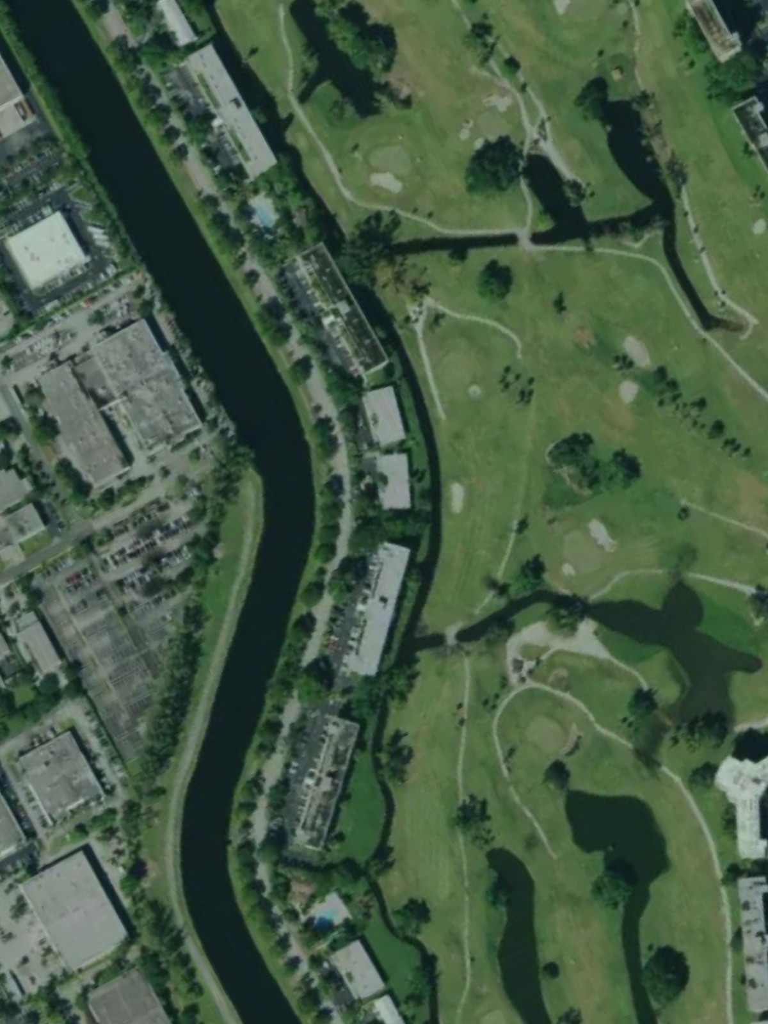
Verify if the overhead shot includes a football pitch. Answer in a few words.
No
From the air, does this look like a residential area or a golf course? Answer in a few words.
golf course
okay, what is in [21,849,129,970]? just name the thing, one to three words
building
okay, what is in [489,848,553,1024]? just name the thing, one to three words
pond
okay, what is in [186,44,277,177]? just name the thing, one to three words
building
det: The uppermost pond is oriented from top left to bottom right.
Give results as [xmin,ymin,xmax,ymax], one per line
[293,0,380,117]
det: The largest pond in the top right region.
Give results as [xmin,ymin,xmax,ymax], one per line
[525,98,743,332]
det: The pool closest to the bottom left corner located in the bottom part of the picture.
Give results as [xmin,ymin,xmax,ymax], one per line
[307,892,352,931]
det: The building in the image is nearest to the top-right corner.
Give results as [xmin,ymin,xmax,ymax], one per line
[681,0,741,67]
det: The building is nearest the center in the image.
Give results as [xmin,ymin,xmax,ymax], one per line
[376,453,411,510]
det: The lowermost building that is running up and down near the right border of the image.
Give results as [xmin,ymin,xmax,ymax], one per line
[736,875,768,1013]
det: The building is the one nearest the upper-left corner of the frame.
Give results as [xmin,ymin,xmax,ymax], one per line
[0,56,35,141]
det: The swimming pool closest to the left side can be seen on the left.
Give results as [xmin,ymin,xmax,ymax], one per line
[250,197,278,227]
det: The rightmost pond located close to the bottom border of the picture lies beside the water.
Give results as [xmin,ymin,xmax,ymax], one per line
[565,790,671,1024]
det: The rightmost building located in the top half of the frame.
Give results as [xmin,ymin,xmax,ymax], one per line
[729,98,768,184]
